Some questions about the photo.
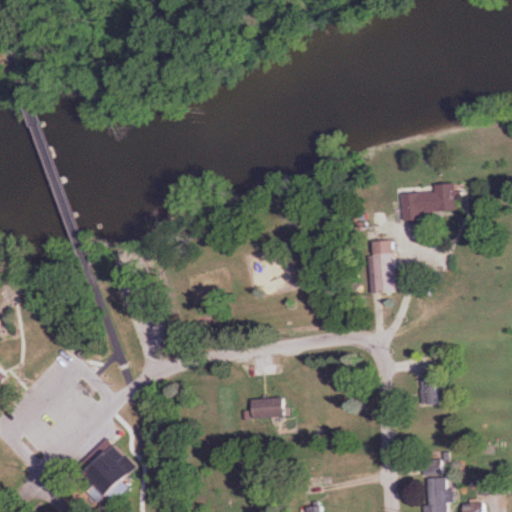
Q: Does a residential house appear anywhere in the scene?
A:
Yes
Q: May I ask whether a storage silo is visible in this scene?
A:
No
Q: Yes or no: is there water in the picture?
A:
Yes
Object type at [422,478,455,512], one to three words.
house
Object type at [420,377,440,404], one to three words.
house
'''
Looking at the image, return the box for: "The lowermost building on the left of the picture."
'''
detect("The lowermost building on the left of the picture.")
[80,438,136,502]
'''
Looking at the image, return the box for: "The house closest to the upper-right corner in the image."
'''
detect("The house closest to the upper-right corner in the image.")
[400,183,461,221]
